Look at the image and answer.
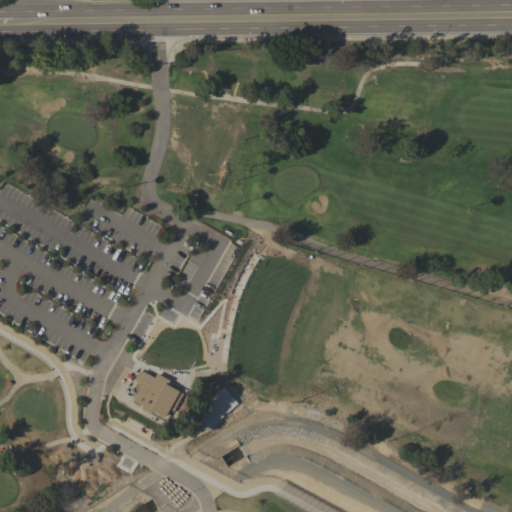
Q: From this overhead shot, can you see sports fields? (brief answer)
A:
Yes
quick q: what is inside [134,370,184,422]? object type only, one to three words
building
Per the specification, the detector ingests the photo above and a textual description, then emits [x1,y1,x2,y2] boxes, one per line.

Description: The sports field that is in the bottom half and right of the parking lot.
[229,256,310,385]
